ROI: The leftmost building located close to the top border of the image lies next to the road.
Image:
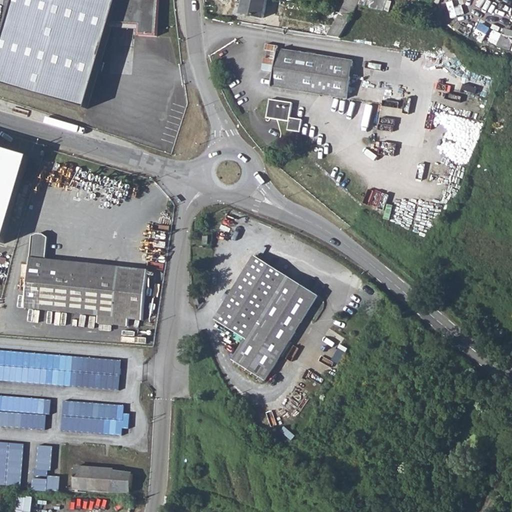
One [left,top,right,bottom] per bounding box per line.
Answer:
[0,0,119,110]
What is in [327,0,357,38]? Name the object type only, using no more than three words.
shed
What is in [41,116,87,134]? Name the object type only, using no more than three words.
vehicle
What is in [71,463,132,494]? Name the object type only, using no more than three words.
barn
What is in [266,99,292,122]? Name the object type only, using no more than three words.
building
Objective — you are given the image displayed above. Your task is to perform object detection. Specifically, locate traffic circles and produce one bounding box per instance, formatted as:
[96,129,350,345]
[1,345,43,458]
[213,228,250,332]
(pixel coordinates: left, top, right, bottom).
[212,156,246,190]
